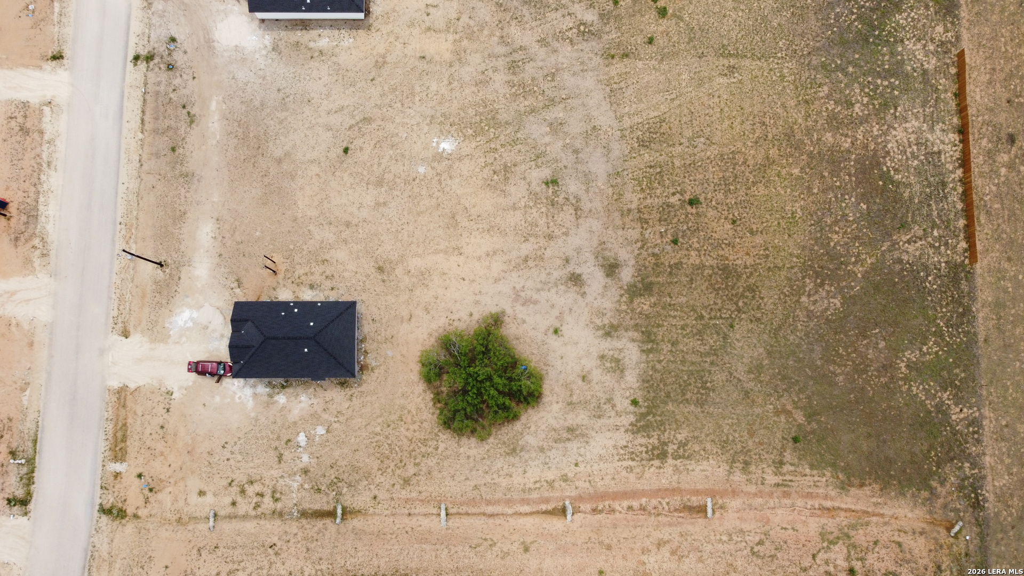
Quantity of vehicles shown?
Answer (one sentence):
I count just 1 vehicle.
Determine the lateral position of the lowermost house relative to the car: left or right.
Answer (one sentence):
You can see the lowermost house positioned to the right of the car.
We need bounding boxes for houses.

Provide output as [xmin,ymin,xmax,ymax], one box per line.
[228,301,358,381]
[248,0,365,20]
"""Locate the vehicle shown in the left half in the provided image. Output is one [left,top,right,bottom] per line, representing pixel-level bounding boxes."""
[182,359,232,384]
